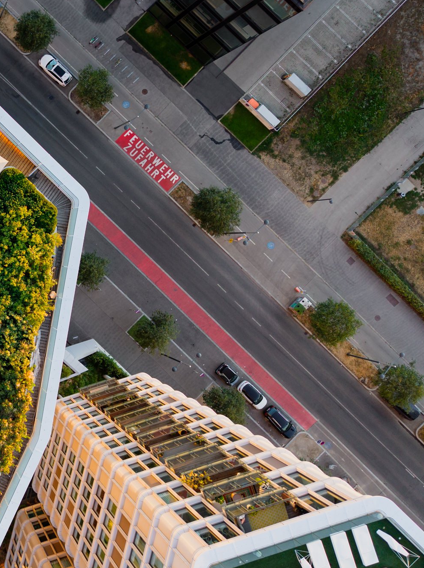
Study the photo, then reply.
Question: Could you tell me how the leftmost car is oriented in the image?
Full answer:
Seen from above, the leftmost car lies on a diagonal.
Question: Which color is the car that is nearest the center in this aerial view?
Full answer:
The car that is nearest the center is black.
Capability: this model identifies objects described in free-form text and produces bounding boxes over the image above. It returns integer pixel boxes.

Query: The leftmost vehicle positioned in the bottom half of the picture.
[210,359,241,388]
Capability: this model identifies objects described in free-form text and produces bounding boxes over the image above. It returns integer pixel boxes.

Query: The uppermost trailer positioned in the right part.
[275,69,317,104]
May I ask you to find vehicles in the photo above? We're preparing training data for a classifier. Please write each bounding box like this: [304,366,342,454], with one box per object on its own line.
[383,394,424,430]
[35,50,76,91]
[210,359,241,388]
[260,401,300,442]
[246,94,289,130]
[232,374,269,414]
